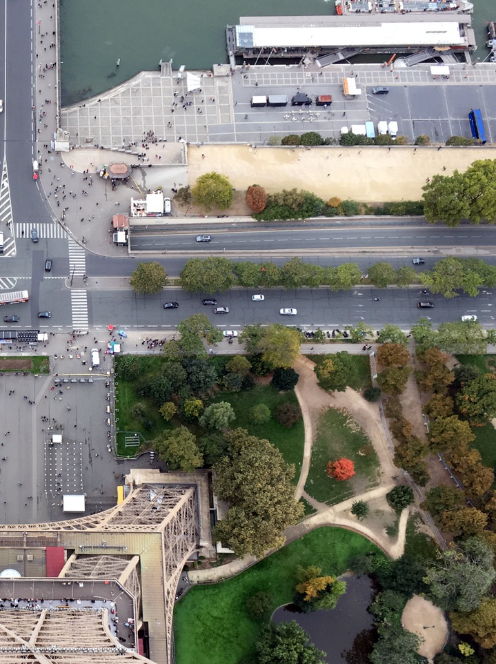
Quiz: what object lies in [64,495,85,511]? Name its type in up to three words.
tent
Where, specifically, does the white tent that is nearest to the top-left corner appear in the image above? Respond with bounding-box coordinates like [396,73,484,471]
[146,193,165,218]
